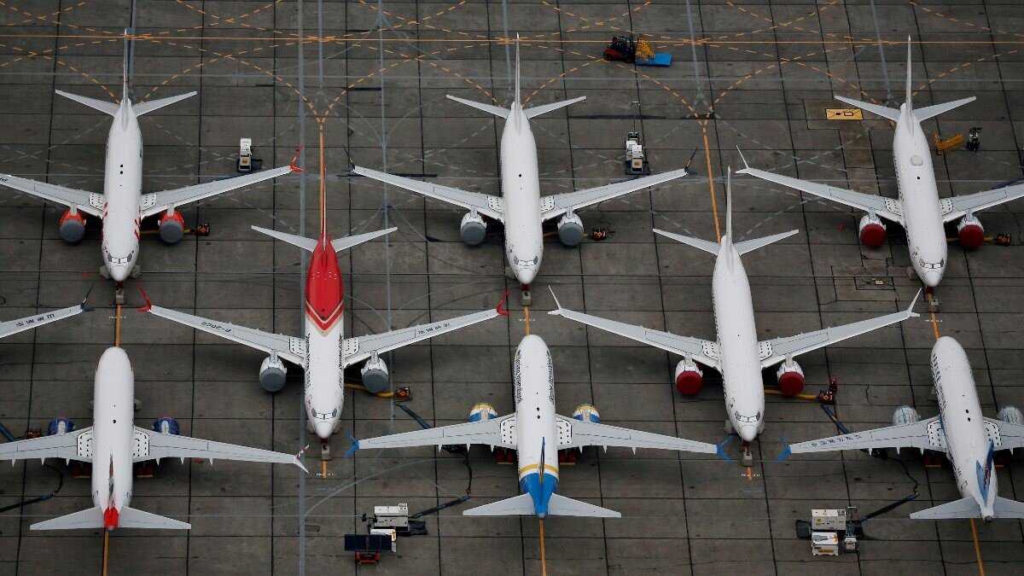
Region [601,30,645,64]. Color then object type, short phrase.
black work vehicle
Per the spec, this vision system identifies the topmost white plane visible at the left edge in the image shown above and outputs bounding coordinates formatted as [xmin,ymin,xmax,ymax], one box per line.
[0,28,303,292]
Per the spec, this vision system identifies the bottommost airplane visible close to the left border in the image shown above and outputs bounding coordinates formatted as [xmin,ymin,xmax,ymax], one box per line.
[0,342,308,534]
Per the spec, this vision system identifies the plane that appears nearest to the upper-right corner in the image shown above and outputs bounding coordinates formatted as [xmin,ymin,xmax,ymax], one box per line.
[737,32,1024,298]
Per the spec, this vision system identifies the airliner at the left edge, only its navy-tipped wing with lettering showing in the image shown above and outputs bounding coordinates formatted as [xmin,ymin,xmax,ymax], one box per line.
[0,282,97,342]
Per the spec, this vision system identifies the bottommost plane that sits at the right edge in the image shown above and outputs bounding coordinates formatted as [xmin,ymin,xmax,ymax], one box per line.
[778,334,1024,524]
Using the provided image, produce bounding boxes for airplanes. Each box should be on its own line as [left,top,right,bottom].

[778,334,1024,524]
[0,28,303,292]
[341,31,698,296]
[0,342,308,534]
[344,331,734,521]
[137,160,510,445]
[549,162,921,448]
[0,282,97,342]
[737,32,1024,298]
